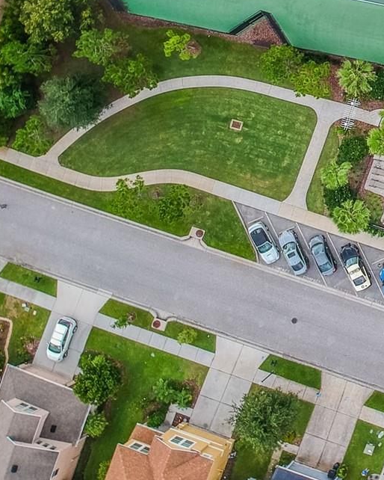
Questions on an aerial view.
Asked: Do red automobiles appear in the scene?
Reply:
No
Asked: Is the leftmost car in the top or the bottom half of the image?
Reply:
bottom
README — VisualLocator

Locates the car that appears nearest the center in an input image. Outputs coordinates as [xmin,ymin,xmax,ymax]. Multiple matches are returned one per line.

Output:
[245,218,280,266]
